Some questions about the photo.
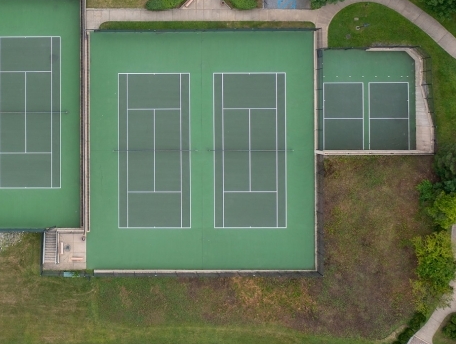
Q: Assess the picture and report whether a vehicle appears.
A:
No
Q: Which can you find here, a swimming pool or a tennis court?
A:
tennis court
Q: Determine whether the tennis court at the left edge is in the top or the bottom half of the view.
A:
top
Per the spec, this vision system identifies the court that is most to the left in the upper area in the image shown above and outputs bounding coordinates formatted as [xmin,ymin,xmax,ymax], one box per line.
[0,37,61,188]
